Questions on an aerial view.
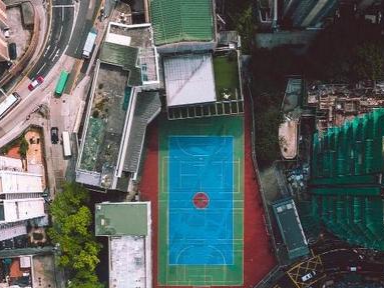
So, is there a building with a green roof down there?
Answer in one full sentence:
Yes, there's a building with a green roof down there.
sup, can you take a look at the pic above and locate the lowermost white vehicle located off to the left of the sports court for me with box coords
[61,131,75,159]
